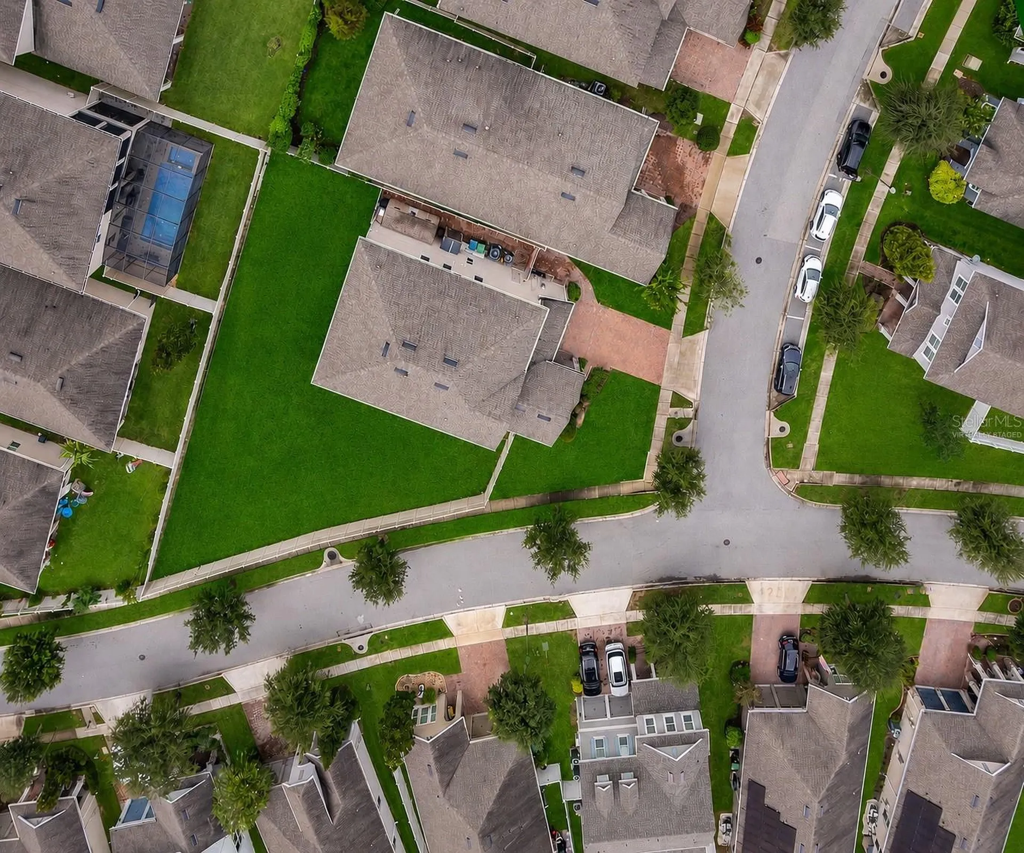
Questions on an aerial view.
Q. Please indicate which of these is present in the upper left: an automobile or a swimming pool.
swimming pool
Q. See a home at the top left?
Yes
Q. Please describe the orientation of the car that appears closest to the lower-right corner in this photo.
from top to bottom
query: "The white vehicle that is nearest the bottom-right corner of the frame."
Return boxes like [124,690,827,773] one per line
[603,640,631,697]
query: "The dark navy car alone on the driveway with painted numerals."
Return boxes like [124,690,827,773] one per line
[775,632,802,683]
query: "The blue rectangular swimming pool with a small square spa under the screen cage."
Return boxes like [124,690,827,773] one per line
[117,130,202,270]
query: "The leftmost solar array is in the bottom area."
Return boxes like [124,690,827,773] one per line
[741,781,793,853]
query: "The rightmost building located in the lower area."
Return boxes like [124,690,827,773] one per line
[866,653,1024,853]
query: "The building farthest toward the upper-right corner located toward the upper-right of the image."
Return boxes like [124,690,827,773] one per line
[991,27,1024,64]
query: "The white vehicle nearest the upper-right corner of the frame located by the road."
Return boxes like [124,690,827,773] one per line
[810,188,845,243]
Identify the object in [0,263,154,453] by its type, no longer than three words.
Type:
house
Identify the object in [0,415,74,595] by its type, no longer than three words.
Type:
house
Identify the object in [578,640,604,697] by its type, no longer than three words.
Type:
car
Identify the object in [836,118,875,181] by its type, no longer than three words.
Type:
car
